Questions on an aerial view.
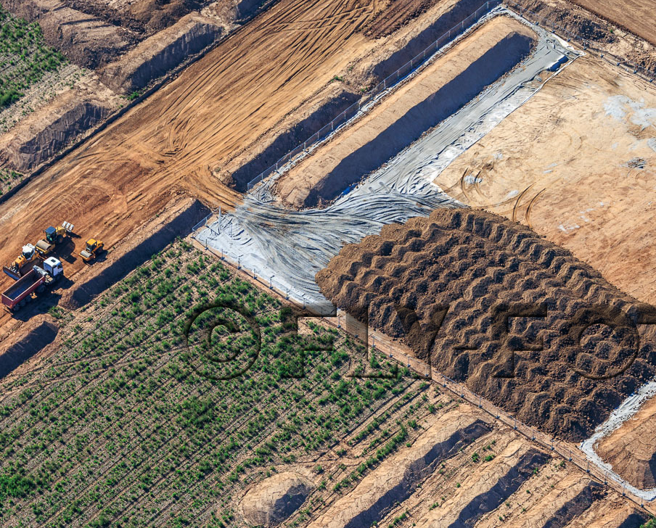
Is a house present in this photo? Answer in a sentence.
No, this view has no house in it.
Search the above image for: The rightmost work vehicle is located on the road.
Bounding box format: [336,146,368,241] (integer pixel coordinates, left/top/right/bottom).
[76,238,102,261]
